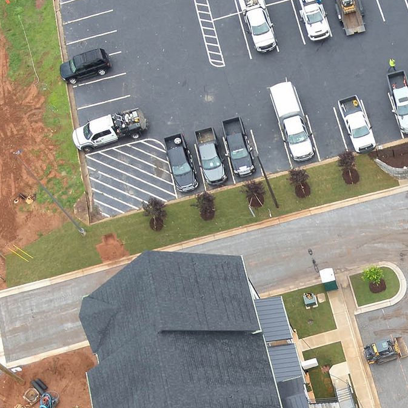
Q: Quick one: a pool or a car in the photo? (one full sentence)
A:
Visible in the photo is a car.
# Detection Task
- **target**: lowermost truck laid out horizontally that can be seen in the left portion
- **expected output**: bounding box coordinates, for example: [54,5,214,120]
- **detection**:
[73,109,152,150]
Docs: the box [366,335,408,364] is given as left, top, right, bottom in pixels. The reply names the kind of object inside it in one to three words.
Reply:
work vehicle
